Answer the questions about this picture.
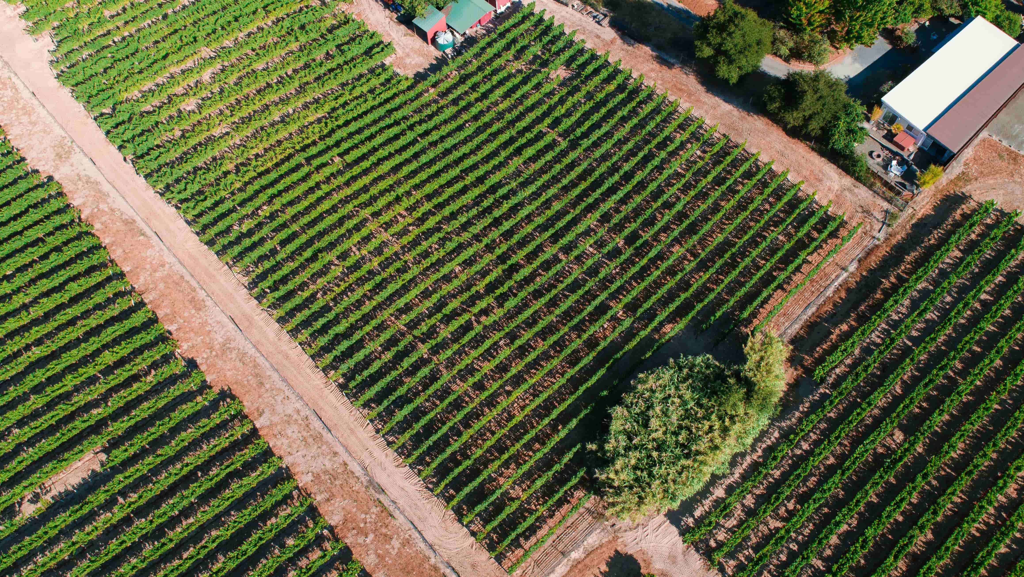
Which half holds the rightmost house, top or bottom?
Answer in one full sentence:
The top half of the photo is where the rightmost house is.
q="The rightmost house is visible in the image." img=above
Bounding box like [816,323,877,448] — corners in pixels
[878,14,1024,159]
